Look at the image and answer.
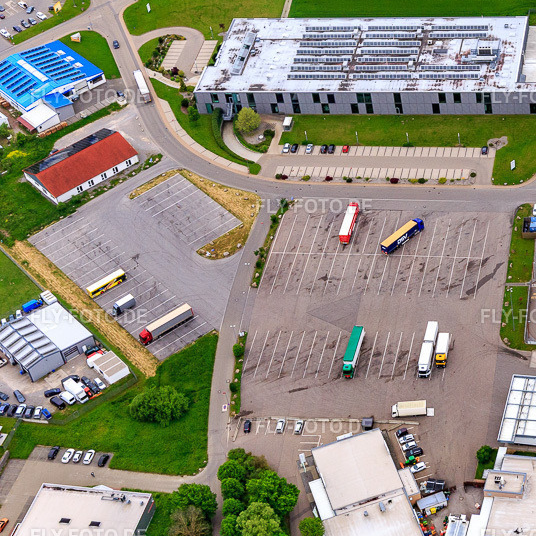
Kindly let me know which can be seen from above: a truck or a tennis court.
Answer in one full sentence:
The image shows a truck.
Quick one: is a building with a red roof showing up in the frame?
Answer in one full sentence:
Yes, this view includes a building with a red roof.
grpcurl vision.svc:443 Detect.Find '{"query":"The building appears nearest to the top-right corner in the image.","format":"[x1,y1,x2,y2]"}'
[194,15,536,122]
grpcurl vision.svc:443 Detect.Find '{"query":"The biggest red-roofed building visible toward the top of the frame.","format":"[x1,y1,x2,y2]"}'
[23,128,139,204]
